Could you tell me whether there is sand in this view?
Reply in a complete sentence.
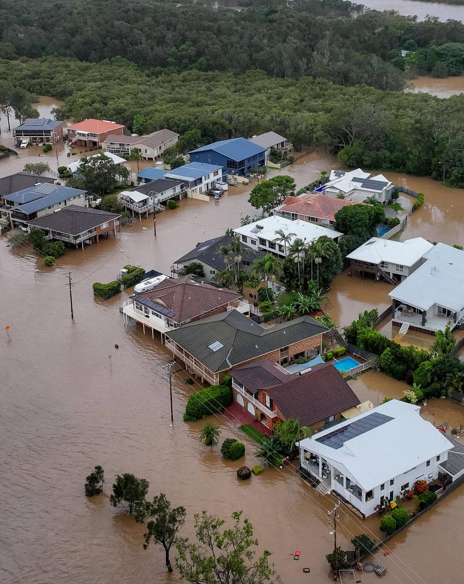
No, there is no sand in the image.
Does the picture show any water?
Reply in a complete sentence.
Yes, water shows up in the scene.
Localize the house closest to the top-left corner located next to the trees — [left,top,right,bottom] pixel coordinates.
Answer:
[13,111,64,145]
